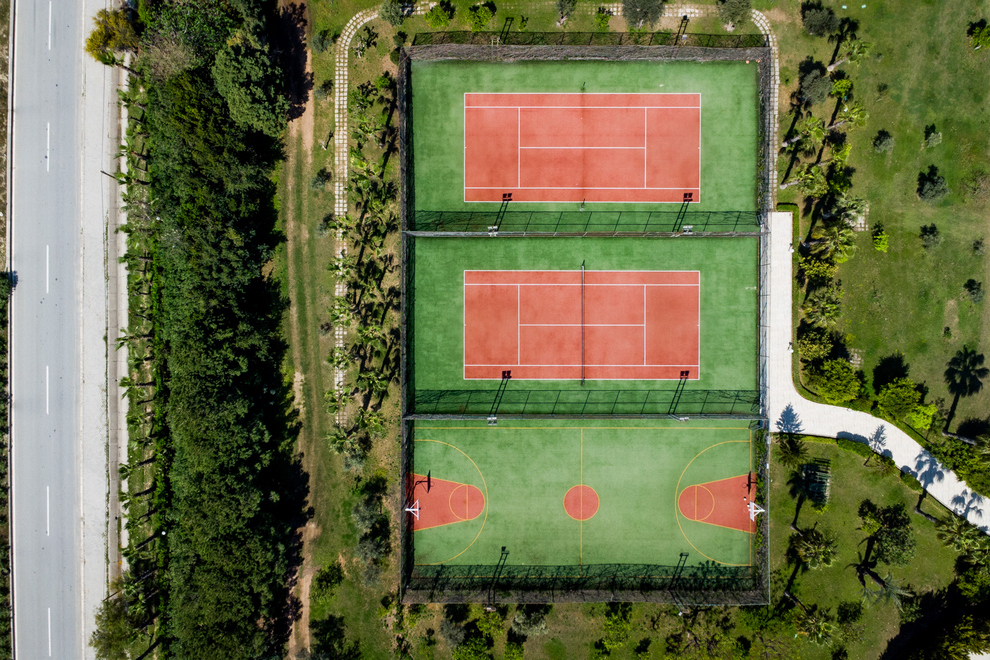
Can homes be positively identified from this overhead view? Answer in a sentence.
No, the frame has no home in it.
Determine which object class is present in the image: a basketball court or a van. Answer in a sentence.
Looking from above, you can make out a basketball court.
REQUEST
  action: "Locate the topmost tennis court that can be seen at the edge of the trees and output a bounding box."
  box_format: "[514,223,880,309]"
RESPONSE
[405,60,758,236]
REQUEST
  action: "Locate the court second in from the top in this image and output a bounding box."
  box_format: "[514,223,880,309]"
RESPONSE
[405,236,758,414]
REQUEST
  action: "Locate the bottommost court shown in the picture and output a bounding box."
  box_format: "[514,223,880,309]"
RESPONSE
[405,414,758,590]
